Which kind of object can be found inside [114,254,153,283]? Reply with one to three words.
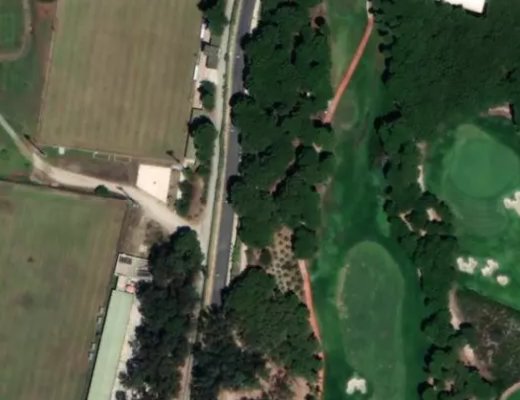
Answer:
building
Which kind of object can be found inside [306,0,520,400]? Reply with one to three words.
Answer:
golf course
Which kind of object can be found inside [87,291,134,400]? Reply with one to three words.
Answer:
building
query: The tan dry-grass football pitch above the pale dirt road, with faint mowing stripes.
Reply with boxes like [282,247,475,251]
[38,0,202,160]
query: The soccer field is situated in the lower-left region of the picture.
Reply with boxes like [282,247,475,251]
[0,183,126,400]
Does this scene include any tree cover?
Yes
